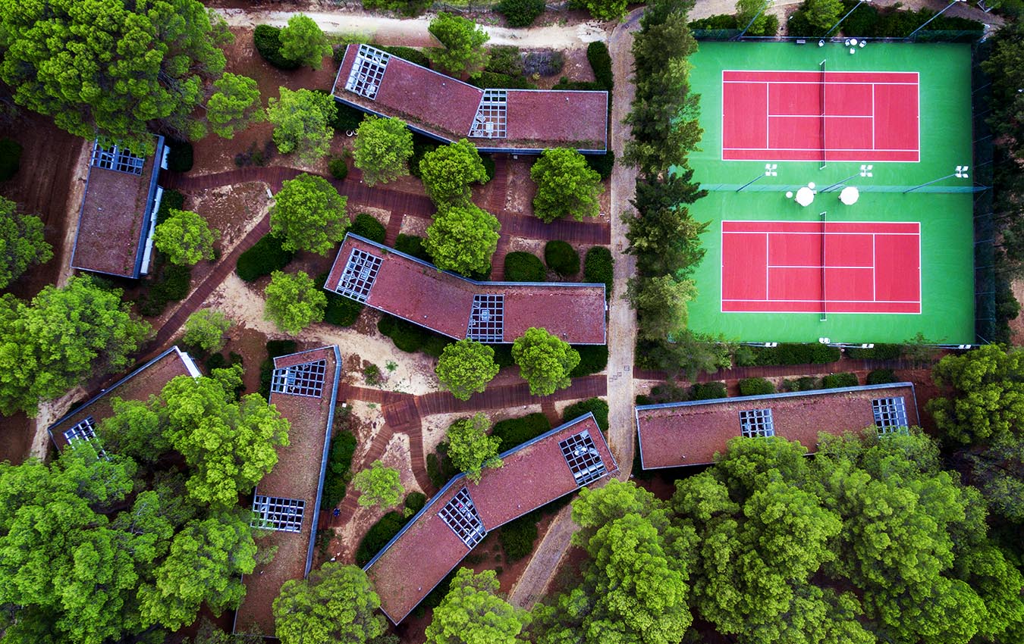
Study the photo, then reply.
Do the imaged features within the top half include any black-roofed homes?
No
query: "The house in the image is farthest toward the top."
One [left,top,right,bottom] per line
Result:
[331,40,608,155]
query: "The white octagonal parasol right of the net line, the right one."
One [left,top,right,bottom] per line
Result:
[836,186,858,205]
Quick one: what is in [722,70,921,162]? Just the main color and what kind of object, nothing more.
red tennis court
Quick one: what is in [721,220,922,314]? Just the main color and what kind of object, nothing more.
red tennis court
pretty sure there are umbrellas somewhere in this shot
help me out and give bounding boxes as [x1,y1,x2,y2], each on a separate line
[793,187,814,206]
[836,186,858,205]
